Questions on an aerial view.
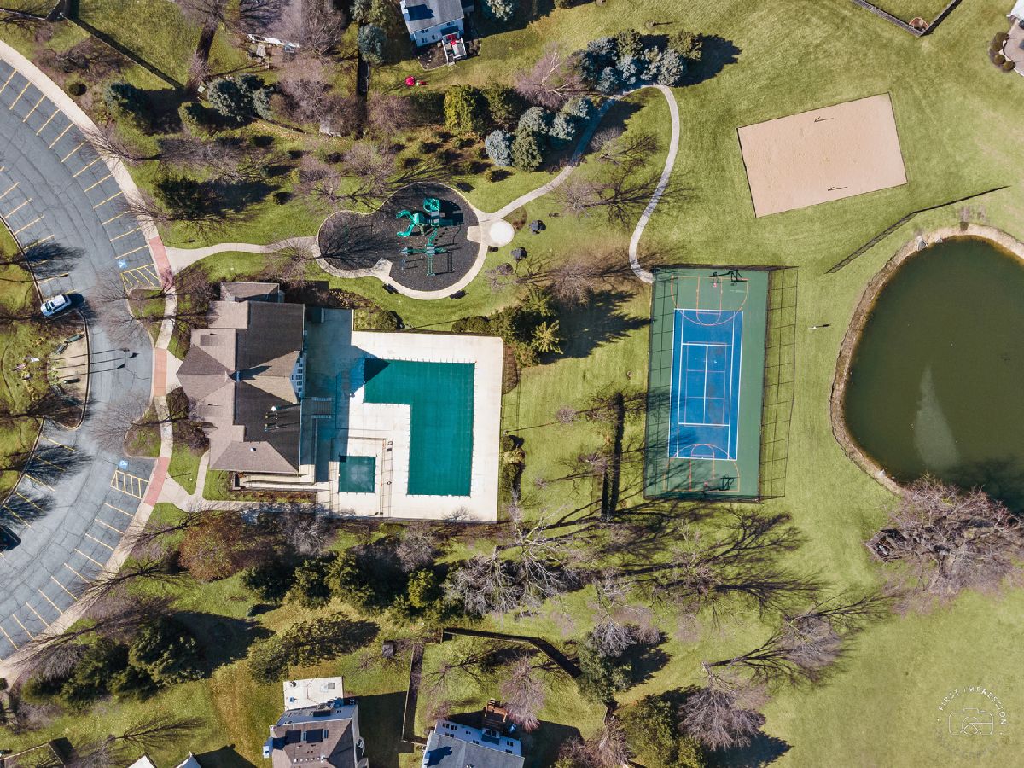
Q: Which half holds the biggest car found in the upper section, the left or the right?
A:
left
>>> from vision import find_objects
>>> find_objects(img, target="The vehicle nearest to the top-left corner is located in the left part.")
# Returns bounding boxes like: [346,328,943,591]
[38,294,71,315]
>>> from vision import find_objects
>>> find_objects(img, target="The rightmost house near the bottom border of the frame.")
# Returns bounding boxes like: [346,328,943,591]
[416,719,522,768]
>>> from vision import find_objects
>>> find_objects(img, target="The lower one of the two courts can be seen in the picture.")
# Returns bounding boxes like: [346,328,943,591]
[644,268,770,500]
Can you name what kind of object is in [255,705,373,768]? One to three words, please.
house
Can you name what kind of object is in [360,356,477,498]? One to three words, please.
swimming pool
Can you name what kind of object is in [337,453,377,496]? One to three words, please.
swimming pool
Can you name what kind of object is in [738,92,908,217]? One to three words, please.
sports court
